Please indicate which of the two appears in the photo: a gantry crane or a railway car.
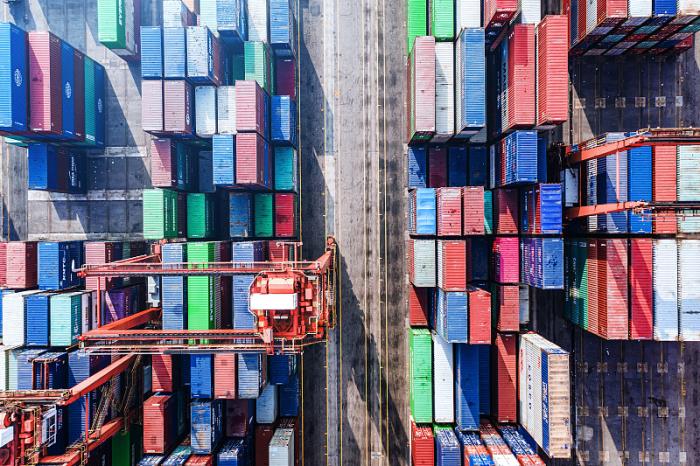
gantry crane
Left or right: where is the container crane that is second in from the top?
left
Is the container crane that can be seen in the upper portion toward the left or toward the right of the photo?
right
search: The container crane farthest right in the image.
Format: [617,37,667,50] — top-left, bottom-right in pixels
[550,133,700,237]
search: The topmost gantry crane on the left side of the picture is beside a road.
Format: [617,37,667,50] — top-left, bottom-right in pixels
[75,230,342,364]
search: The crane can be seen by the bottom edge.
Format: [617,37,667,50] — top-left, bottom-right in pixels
[0,321,156,466]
